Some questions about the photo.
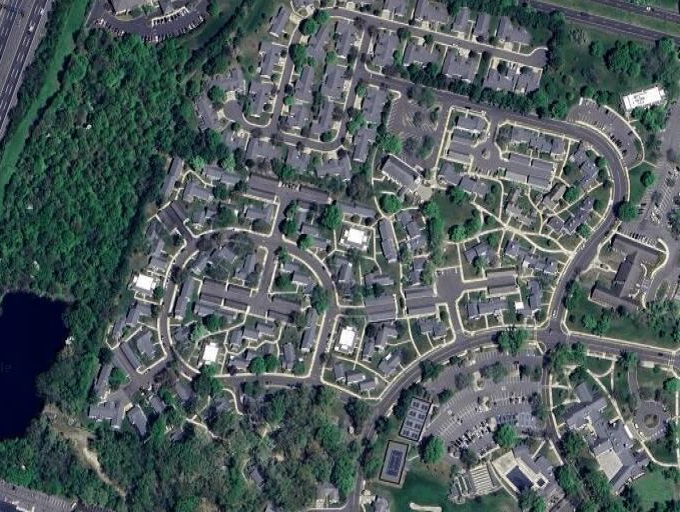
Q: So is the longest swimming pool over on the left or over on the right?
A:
right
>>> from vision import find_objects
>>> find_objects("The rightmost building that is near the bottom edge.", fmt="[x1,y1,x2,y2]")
[564,384,652,492]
